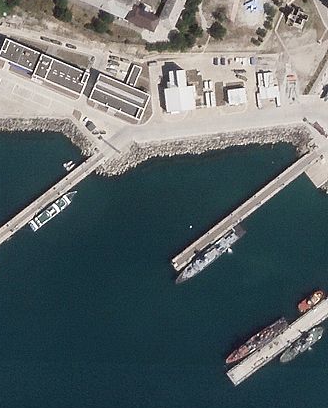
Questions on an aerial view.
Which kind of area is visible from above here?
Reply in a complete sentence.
The area seen from above is a port.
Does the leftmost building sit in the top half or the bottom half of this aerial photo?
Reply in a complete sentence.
Seen from above, the leftmost building lies in the top half of the view.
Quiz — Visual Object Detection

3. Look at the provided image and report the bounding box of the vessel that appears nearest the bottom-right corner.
[280,326,326,360]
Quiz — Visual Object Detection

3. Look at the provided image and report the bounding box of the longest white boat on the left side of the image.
[29,191,77,231]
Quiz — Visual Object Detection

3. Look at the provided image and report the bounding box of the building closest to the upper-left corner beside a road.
[0,37,41,73]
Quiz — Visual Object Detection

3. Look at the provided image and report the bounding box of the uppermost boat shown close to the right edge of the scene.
[298,292,325,313]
